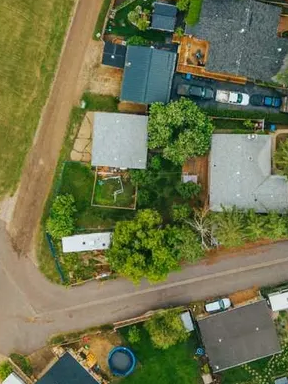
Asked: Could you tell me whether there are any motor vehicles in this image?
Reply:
Yes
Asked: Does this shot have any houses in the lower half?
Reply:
Yes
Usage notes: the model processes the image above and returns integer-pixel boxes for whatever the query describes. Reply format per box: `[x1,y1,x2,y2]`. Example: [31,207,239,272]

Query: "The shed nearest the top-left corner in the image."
[99,43,126,68]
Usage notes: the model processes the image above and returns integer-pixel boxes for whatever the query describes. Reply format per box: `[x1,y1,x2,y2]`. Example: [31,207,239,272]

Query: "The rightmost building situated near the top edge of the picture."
[185,0,288,83]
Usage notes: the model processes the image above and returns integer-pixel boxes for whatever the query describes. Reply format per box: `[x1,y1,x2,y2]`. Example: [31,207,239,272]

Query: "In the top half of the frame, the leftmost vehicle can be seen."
[177,83,213,100]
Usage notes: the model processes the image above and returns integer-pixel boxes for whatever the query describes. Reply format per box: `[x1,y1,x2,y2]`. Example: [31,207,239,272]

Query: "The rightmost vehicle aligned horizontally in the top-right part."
[250,93,282,109]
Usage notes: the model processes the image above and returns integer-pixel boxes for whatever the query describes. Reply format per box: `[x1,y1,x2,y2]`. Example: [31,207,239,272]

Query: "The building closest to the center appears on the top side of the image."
[90,112,148,169]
